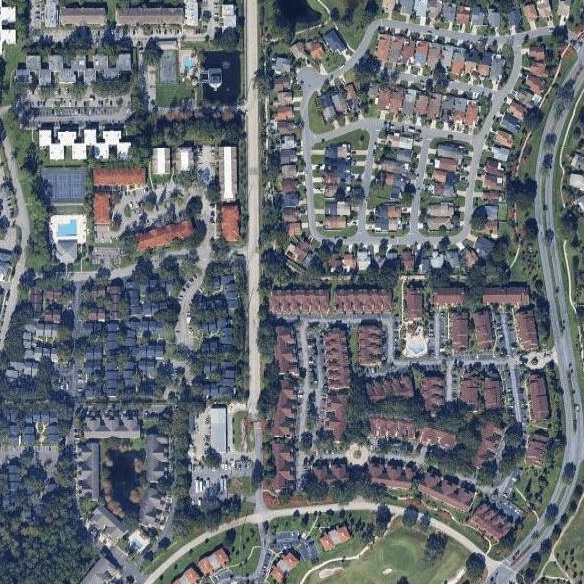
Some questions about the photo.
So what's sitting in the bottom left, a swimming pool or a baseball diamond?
swimming pool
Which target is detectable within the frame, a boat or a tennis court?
tennis court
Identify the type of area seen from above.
residential area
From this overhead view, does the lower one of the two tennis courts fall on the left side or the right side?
left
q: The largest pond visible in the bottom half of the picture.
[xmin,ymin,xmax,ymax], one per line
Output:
[104,450,146,517]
